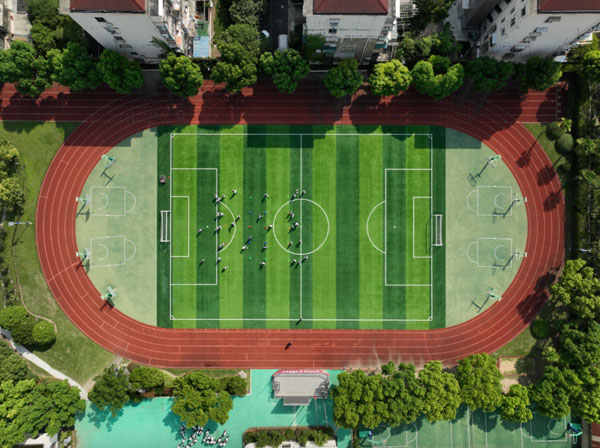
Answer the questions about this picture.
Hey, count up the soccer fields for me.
1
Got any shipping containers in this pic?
No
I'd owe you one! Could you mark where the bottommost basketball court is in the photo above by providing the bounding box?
[357,402,579,448]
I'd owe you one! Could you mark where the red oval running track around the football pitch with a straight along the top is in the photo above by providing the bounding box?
[0,81,568,368]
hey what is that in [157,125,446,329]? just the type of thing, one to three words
soccer field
